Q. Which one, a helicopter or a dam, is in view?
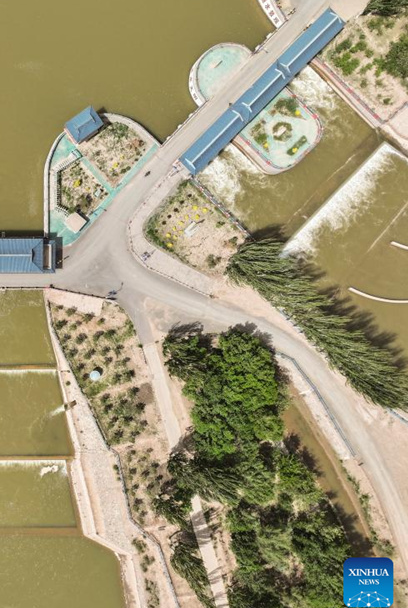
dam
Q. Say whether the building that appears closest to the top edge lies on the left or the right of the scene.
left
